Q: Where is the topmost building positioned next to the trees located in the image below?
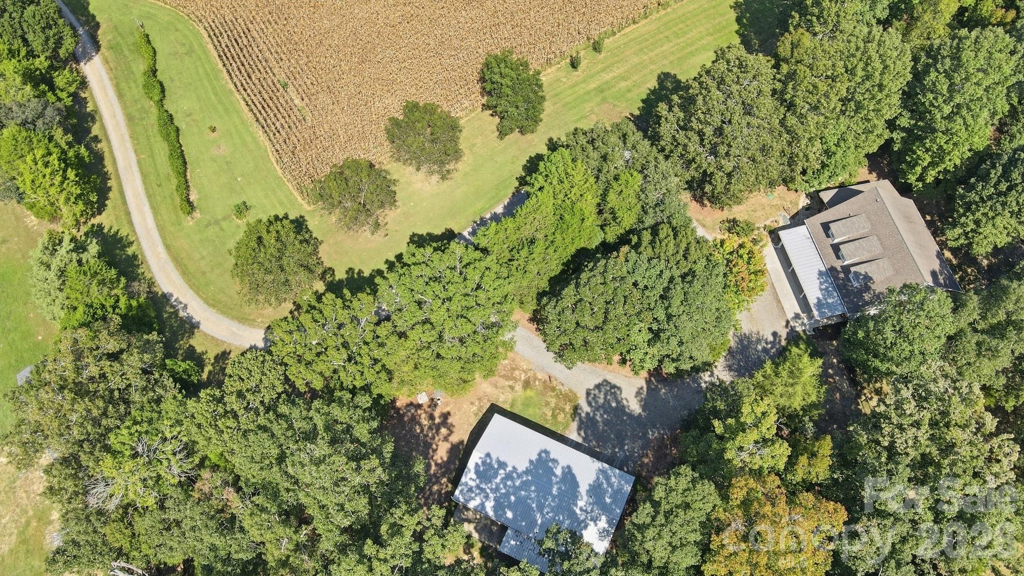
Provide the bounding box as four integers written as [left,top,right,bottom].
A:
[769,176,962,336]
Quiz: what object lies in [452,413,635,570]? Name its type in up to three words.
building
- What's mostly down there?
trees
